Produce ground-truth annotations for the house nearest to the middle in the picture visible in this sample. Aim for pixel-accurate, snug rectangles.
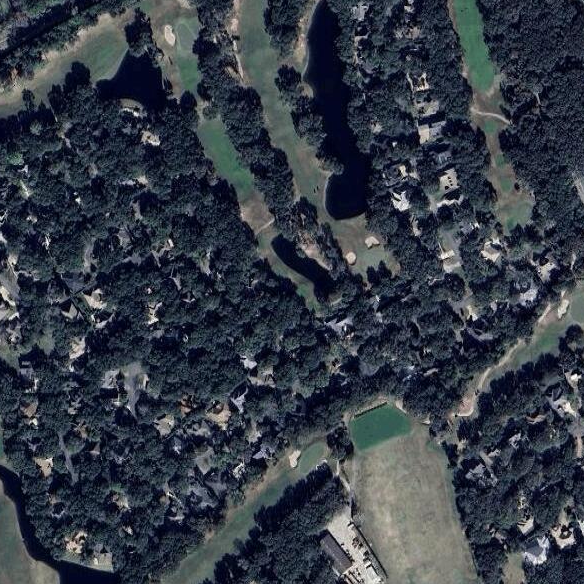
[322,312,355,336]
